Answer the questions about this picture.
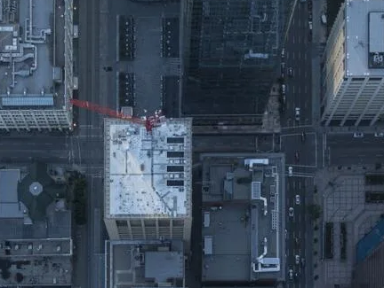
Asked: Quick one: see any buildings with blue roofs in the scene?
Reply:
Yes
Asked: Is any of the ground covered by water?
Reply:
No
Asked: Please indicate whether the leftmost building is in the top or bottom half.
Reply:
bottom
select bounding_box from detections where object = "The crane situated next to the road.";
[72,95,169,126]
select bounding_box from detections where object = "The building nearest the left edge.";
[0,171,21,217]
